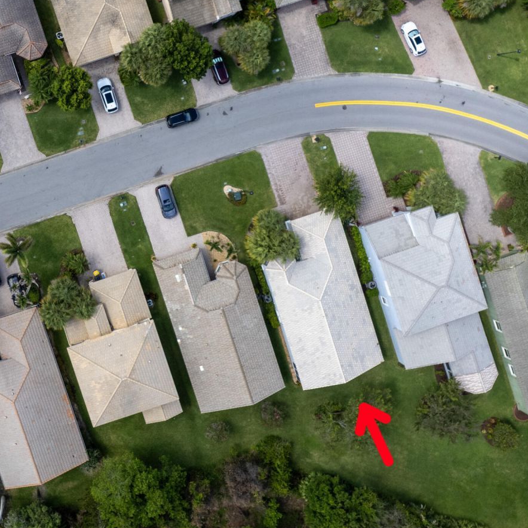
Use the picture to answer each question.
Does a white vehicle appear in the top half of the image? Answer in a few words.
Yes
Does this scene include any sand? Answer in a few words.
No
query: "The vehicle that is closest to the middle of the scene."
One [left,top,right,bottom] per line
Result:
[154,183,177,220]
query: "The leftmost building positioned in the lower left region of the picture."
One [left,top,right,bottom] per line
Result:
[0,307,89,490]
